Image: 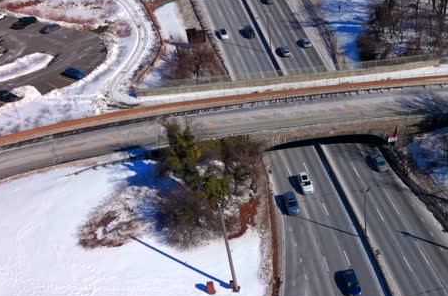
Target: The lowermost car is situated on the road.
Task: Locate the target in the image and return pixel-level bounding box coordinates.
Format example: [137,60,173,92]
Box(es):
[339,268,362,296]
